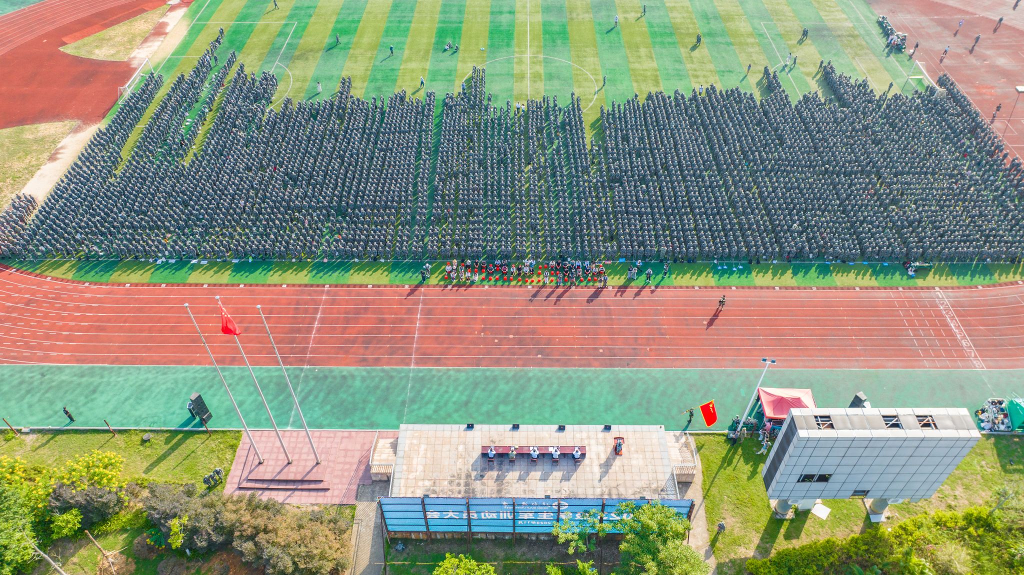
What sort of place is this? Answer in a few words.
sports ground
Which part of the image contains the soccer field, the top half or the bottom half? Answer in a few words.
top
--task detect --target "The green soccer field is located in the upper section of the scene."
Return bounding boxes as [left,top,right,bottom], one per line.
[0,0,1024,285]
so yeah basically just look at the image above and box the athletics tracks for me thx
[0,0,1024,370]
